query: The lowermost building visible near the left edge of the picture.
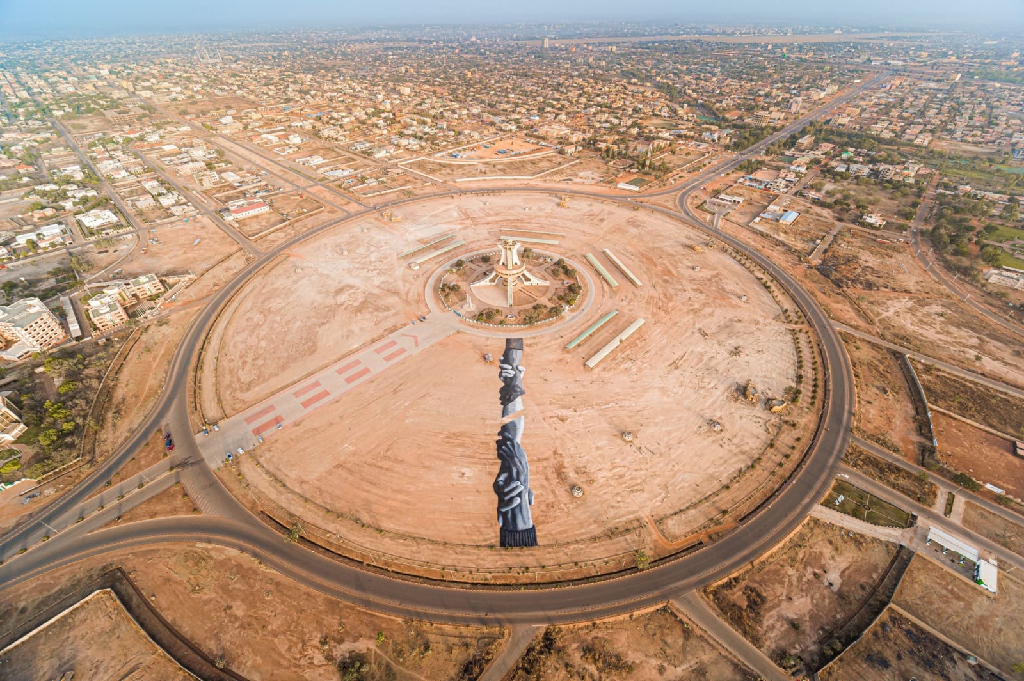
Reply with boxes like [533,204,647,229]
[0,401,42,442]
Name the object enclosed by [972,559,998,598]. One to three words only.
building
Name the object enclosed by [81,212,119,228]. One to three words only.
house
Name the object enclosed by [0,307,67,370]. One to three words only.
building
